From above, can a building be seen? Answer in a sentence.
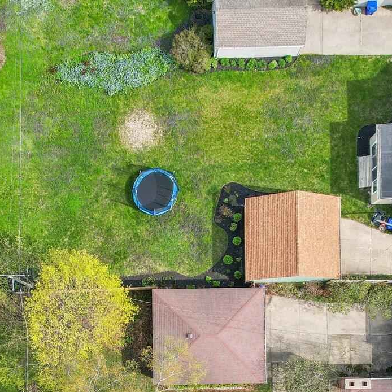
Yes, there is a building in the image.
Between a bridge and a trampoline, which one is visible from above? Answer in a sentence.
The one in the frame is a trampoline.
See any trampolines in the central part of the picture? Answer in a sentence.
Yes, in the central part of the picture there is a trampoline.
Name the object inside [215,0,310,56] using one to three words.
building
